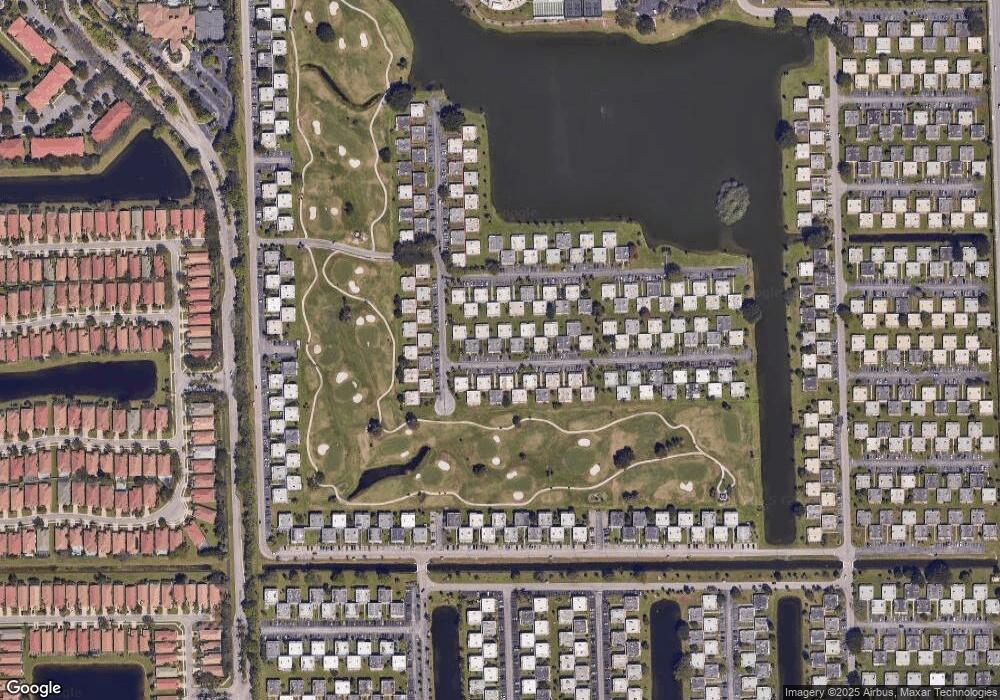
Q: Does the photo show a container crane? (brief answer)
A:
No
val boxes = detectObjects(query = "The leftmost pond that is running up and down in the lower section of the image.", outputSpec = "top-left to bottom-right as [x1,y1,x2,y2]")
[433,606,461,700]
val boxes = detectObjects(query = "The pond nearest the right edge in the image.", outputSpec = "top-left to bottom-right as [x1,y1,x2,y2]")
[777,597,806,700]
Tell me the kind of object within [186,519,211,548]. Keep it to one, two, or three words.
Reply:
house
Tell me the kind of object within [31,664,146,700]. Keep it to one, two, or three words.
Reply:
pond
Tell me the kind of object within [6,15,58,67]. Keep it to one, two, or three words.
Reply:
building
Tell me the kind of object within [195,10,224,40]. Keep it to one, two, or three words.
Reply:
tennis court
